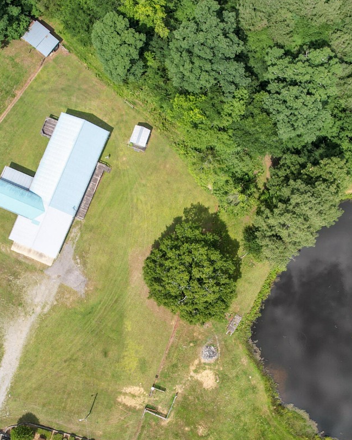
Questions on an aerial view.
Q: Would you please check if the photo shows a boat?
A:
No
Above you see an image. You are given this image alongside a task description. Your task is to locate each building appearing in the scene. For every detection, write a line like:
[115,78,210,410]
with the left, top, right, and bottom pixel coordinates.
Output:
[130,125,151,150]
[22,21,59,59]
[0,112,109,257]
